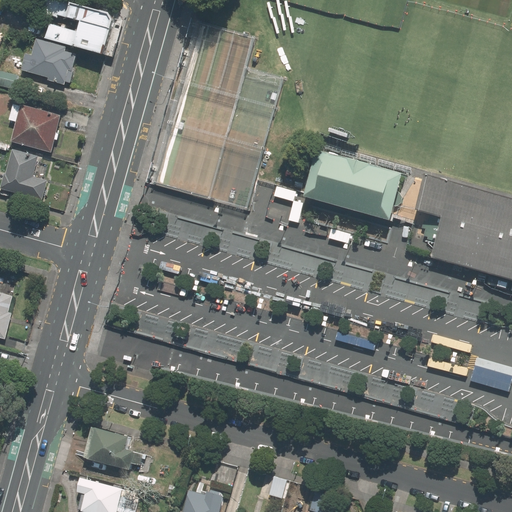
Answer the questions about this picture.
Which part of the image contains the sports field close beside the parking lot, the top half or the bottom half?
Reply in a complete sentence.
The sports field close beside the parking lot sits in the top half of the picture.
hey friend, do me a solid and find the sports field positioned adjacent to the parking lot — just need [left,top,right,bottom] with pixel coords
[273,0,512,190]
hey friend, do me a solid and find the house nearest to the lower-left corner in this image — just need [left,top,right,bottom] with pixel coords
[76,477,124,512]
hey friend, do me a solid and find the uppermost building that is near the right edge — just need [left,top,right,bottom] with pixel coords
[417,174,512,282]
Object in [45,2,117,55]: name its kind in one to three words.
building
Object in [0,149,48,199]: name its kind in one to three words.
house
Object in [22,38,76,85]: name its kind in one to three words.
house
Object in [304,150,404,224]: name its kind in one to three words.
building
